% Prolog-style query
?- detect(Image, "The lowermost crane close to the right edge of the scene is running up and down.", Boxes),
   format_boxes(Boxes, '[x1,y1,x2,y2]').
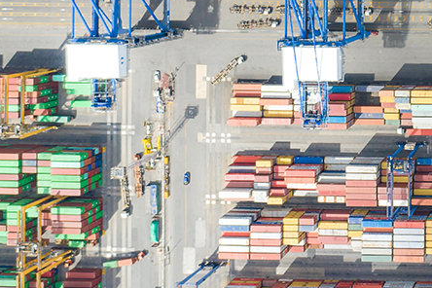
[385,139,427,223]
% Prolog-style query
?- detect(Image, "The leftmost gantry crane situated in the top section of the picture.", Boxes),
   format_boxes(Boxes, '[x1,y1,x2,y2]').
[1,64,70,135]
